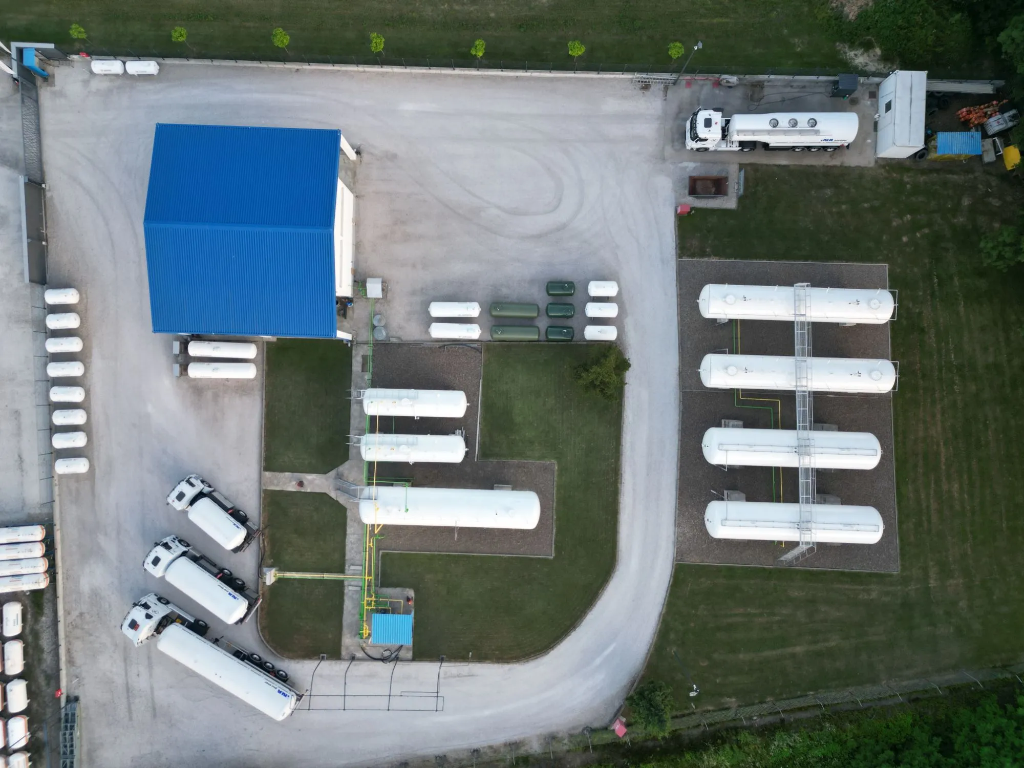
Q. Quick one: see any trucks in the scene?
Yes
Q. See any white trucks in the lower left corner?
Yes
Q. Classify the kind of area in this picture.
industrial area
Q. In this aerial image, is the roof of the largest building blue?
Yes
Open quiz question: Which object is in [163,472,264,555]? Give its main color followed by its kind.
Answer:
white truck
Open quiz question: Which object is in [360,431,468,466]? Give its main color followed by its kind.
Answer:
white storage tank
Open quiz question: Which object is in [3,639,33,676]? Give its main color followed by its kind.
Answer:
white storage tank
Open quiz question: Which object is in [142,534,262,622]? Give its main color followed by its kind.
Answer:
white truck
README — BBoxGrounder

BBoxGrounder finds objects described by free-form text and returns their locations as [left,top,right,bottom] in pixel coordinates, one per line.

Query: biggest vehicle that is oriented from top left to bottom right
[121,591,312,722]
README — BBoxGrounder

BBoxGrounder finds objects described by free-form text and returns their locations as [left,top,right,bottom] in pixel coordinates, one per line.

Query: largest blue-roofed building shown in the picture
[142,122,357,342]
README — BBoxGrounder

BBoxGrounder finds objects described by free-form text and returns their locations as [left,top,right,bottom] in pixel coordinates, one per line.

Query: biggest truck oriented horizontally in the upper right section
[683,107,862,153]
